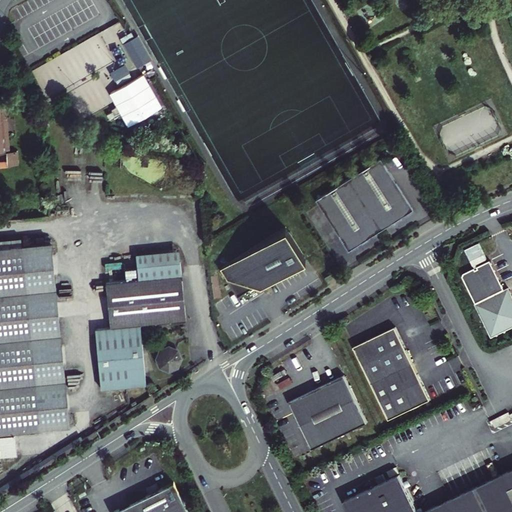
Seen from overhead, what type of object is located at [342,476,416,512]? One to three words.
building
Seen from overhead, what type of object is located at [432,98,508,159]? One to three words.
sports court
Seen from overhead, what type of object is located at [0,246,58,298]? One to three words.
shed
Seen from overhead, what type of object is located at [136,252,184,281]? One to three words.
building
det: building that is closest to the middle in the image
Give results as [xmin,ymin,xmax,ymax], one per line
[220,238,310,292]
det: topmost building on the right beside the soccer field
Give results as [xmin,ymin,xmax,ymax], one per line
[317,161,414,252]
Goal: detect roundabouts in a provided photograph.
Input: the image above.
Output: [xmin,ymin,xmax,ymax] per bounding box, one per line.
[188,394,248,470]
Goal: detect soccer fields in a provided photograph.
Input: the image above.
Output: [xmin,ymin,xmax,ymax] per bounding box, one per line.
[124,0,380,201]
